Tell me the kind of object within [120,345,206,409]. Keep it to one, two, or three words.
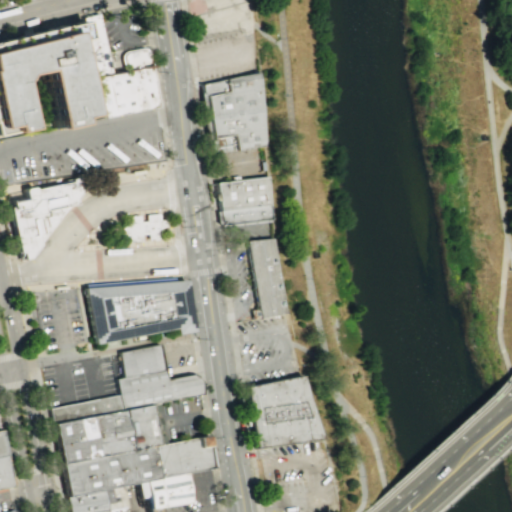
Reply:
building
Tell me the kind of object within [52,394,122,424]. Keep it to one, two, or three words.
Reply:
shed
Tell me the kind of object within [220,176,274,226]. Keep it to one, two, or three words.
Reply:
building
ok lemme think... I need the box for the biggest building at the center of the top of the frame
[204,74,268,152]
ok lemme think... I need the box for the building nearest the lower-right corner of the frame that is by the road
[253,378,326,448]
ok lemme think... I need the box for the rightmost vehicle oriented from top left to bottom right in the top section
[137,138,161,158]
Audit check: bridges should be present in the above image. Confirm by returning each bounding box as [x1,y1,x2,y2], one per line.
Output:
[368,380,512,512]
